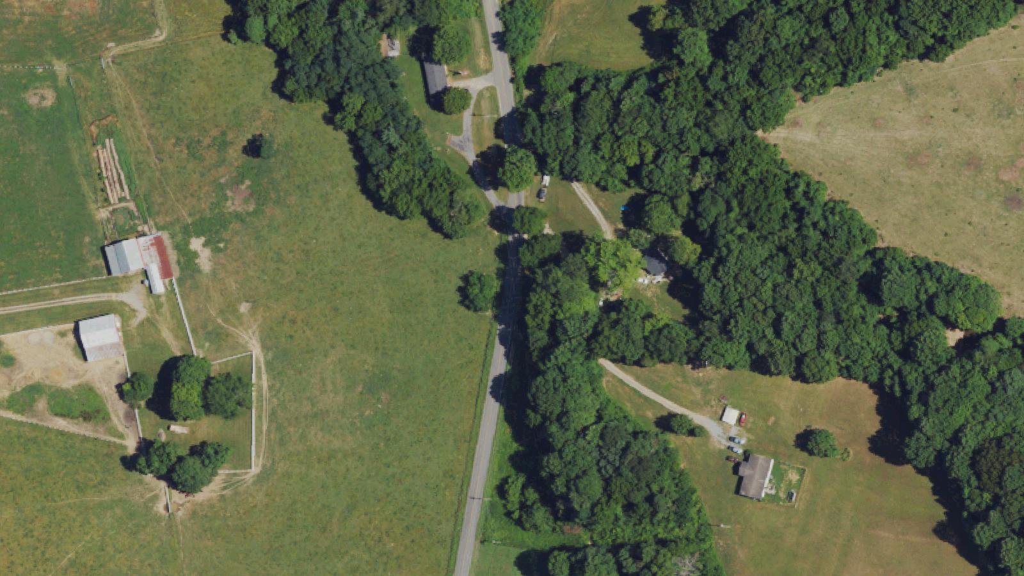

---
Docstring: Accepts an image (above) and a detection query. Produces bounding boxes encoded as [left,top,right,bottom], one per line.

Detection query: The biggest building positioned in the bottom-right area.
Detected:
[737,455,773,499]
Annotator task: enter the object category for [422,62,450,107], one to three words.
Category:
house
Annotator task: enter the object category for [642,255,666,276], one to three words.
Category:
house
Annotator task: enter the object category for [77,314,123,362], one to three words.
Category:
barn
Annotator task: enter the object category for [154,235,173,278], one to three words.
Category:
shed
